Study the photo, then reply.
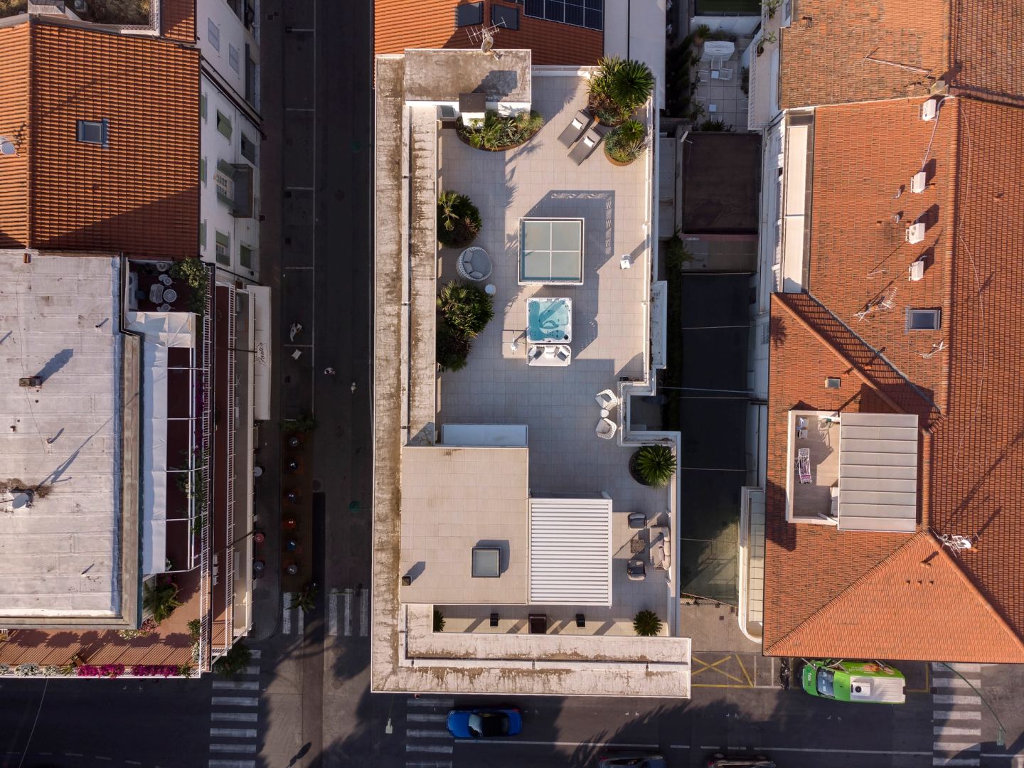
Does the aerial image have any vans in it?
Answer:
Yes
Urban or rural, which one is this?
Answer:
urban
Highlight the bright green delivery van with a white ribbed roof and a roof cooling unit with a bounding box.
[798,661,907,706]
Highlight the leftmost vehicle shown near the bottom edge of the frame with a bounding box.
[449,706,520,743]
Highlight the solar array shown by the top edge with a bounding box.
[523,0,597,26]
